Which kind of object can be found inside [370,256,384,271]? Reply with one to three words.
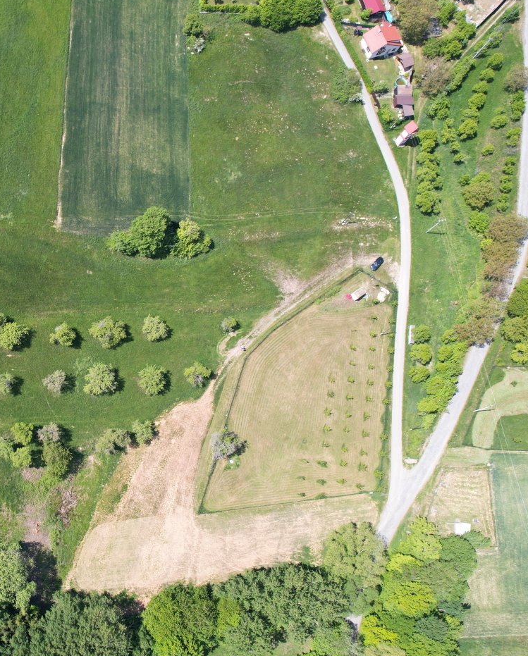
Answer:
vehicle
